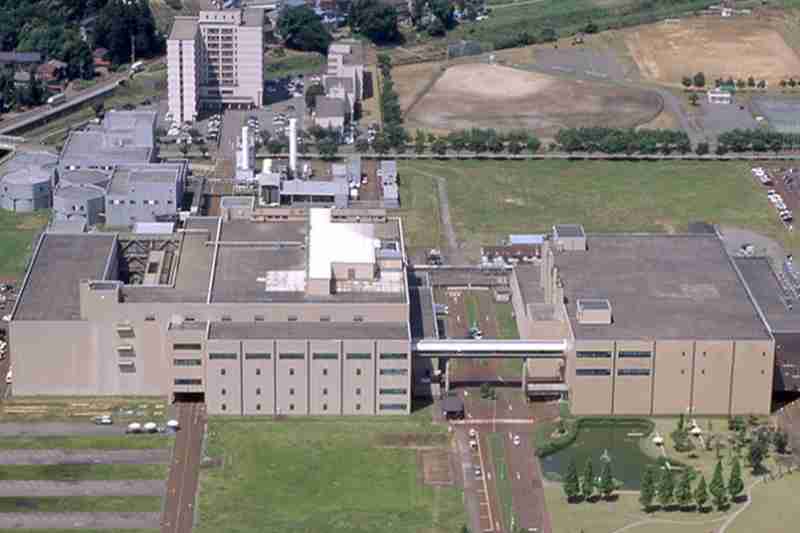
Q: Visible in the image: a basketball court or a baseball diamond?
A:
baseball diamond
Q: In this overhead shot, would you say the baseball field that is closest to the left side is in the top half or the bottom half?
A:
top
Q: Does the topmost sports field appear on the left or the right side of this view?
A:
right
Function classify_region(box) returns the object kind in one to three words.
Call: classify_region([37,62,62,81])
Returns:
house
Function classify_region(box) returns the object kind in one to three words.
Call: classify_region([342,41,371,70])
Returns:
building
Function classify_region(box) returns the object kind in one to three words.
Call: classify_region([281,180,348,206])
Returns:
shed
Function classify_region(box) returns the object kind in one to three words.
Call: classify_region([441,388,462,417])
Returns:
building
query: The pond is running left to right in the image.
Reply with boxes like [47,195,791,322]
[542,421,684,488]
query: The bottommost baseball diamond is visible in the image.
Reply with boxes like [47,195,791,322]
[402,62,666,134]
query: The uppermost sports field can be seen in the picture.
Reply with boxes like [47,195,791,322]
[624,20,800,89]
